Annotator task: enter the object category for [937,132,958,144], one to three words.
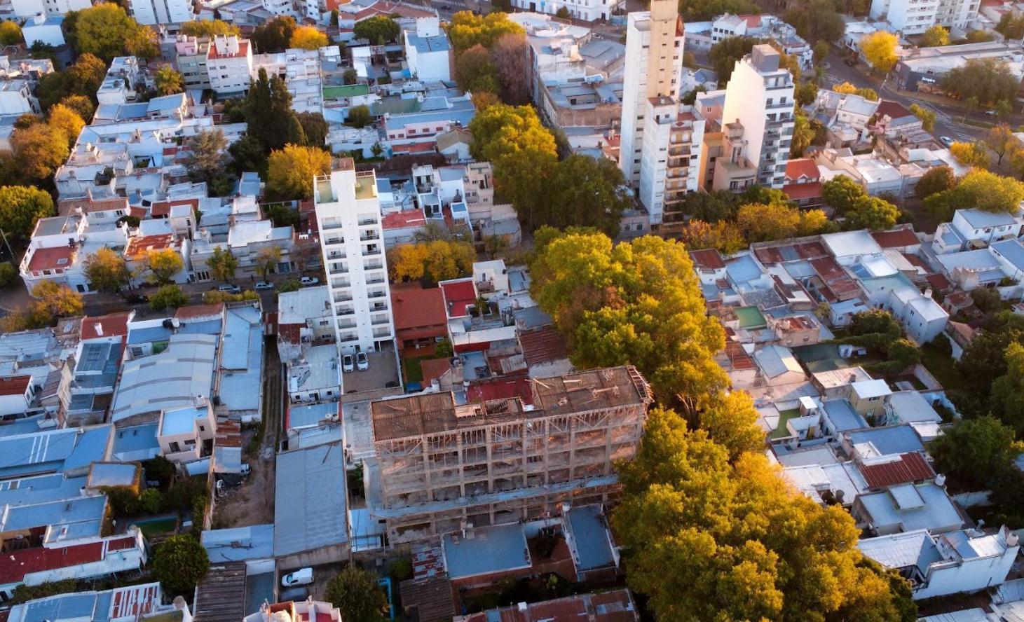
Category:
vehicle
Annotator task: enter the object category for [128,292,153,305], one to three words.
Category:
vehicle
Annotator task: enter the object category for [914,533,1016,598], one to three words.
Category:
house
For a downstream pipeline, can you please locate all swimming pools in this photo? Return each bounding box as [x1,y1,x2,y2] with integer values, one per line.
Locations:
[123,514,179,536]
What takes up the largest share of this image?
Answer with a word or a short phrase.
buildings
